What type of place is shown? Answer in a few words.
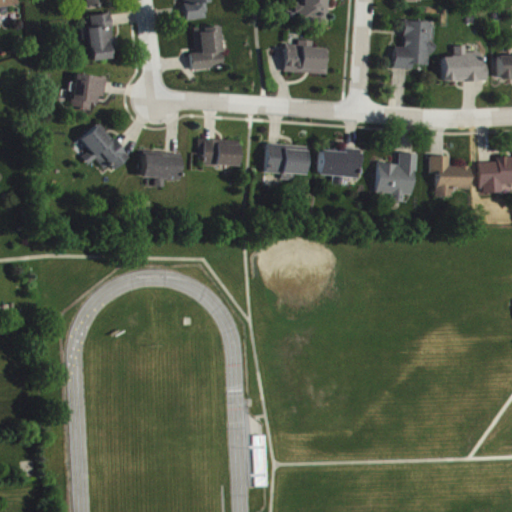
sports ground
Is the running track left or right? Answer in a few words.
left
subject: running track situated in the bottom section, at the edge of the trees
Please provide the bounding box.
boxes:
[67,269,251,512]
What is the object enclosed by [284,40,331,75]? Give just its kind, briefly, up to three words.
house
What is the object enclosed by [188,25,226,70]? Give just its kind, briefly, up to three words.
house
